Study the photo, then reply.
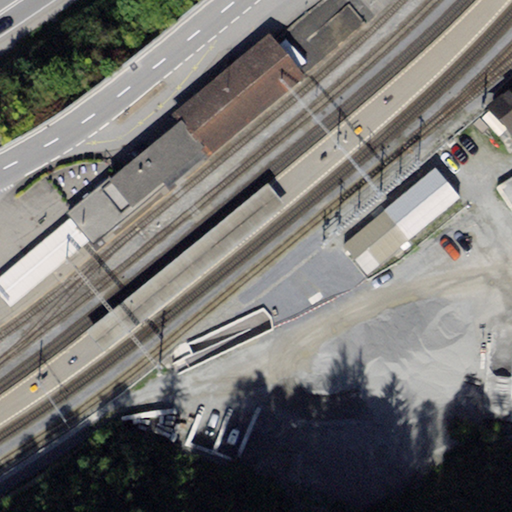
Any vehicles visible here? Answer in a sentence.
Yes, a vehicle can be made out from above.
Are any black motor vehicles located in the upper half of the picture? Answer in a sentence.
Yes, the scene does show a black motor vehicle in the upper half of the picture.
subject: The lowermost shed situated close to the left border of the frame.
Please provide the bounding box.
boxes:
[0,218,88,306]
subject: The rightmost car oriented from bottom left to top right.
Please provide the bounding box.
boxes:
[370,269,394,288]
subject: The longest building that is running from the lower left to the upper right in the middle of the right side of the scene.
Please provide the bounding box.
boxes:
[346,168,460,278]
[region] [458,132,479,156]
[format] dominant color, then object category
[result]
black car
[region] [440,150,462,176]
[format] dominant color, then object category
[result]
white car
